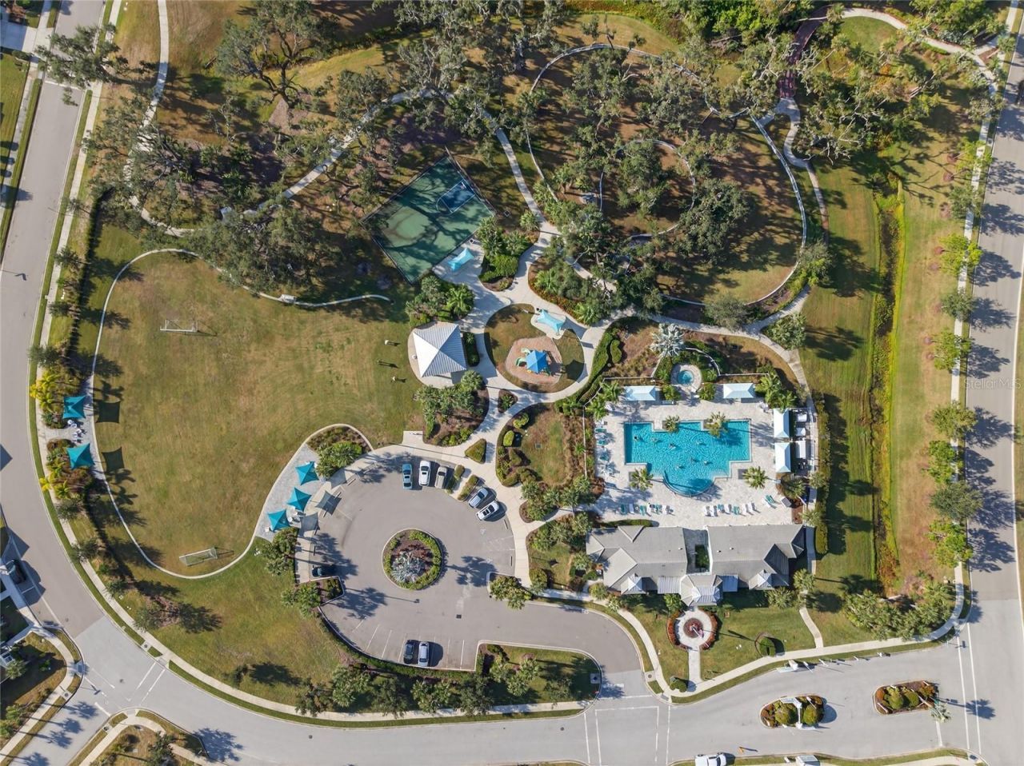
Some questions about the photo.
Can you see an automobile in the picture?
Yes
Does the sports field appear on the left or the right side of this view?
left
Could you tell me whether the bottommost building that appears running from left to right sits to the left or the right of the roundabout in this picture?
to its right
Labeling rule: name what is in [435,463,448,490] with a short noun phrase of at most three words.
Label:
vehicle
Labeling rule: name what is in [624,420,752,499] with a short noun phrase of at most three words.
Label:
swimming pool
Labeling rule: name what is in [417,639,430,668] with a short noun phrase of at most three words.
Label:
vehicle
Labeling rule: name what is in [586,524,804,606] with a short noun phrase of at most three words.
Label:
building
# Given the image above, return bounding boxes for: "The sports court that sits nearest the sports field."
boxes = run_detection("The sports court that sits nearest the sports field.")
[363,155,497,284]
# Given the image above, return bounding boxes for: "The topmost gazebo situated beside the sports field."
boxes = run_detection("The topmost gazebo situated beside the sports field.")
[413,324,466,377]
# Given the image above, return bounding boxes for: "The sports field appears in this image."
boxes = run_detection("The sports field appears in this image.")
[90,248,420,579]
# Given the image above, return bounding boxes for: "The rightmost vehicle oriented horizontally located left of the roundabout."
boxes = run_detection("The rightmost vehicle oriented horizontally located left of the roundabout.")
[311,564,337,577]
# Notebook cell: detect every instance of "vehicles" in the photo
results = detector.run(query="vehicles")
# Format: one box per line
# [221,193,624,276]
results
[403,637,416,665]
[417,639,430,668]
[435,463,448,490]
[401,462,413,489]
[467,486,493,510]
[417,460,431,488]
[311,564,337,577]
[475,499,502,522]
[694,754,726,766]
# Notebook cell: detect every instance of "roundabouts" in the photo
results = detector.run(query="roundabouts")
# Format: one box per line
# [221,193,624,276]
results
[381,529,443,591]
